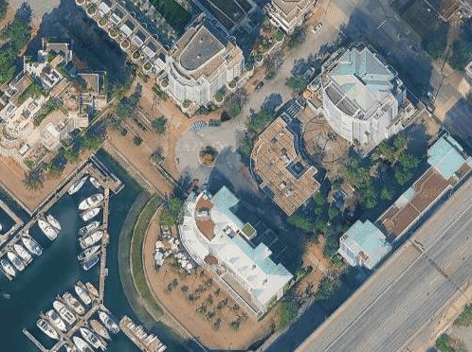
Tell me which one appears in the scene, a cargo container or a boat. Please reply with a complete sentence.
Looking from above, you can make out a boat.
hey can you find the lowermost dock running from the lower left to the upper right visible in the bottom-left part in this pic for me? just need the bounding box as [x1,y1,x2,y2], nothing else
[43,302,102,352]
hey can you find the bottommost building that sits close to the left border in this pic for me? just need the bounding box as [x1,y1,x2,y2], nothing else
[0,43,107,167]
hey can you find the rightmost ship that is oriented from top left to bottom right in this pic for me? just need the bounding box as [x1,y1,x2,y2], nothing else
[120,316,172,352]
